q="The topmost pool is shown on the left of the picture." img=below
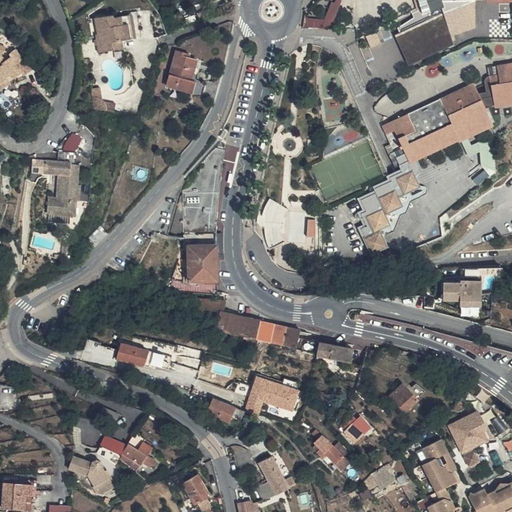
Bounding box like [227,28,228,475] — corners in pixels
[100,58,124,92]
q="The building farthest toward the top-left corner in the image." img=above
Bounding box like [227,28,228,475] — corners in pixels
[0,44,32,90]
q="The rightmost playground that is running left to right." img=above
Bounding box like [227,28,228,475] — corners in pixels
[432,42,512,73]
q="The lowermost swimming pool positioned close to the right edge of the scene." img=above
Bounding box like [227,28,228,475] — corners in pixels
[486,448,504,468]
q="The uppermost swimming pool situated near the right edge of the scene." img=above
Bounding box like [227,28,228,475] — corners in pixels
[482,274,496,292]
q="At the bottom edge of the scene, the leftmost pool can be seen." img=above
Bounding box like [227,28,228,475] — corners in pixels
[298,492,312,508]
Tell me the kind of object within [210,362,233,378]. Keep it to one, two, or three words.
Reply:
swimming pool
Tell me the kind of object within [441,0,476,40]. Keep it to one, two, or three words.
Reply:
building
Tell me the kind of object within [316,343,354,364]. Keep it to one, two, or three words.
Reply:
house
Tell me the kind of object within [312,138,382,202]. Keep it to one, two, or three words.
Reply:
sports court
